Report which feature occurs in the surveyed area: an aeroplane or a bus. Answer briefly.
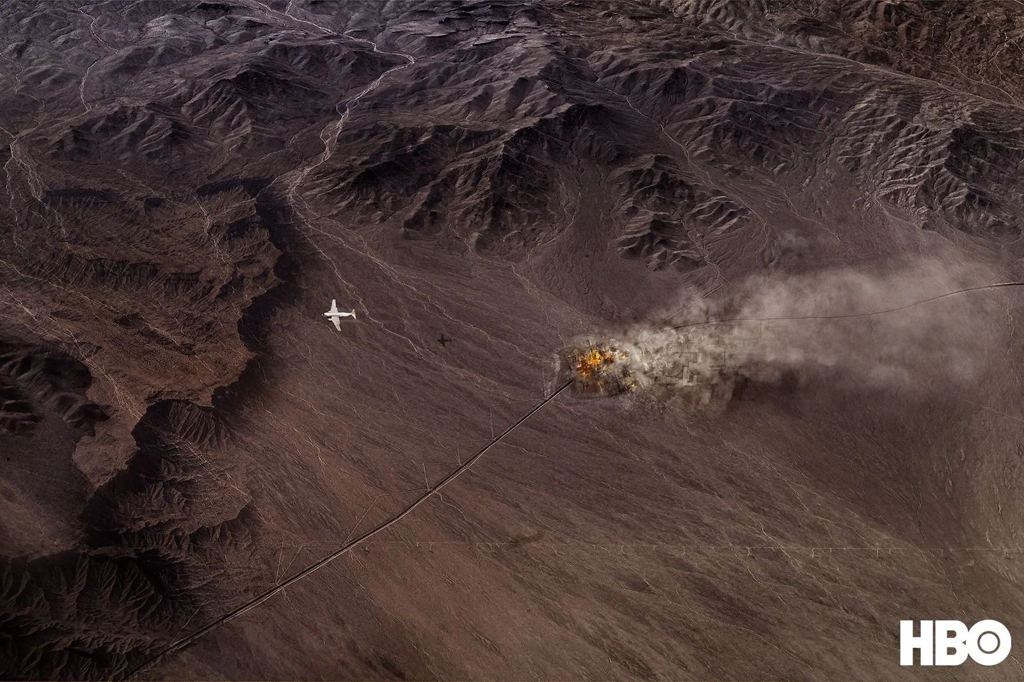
aeroplane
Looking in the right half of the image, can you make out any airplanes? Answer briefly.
No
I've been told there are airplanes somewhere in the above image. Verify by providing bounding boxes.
[322,298,356,331]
